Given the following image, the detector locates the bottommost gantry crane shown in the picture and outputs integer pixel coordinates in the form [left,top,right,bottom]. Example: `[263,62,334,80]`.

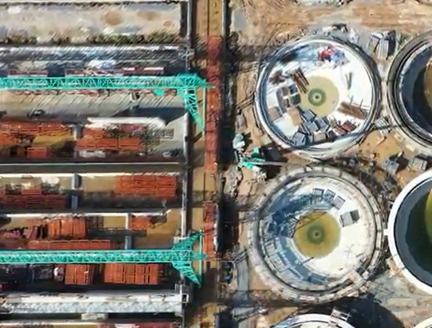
[0,228,208,285]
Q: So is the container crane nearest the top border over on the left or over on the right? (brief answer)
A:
left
